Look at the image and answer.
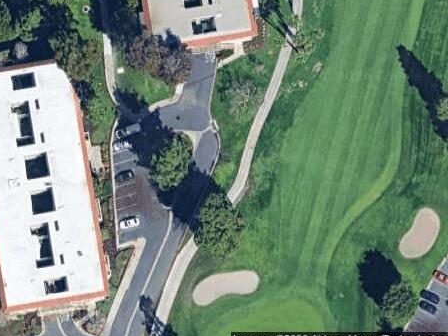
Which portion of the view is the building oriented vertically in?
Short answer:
left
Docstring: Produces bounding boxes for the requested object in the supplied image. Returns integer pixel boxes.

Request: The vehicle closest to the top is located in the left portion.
[115,125,140,139]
